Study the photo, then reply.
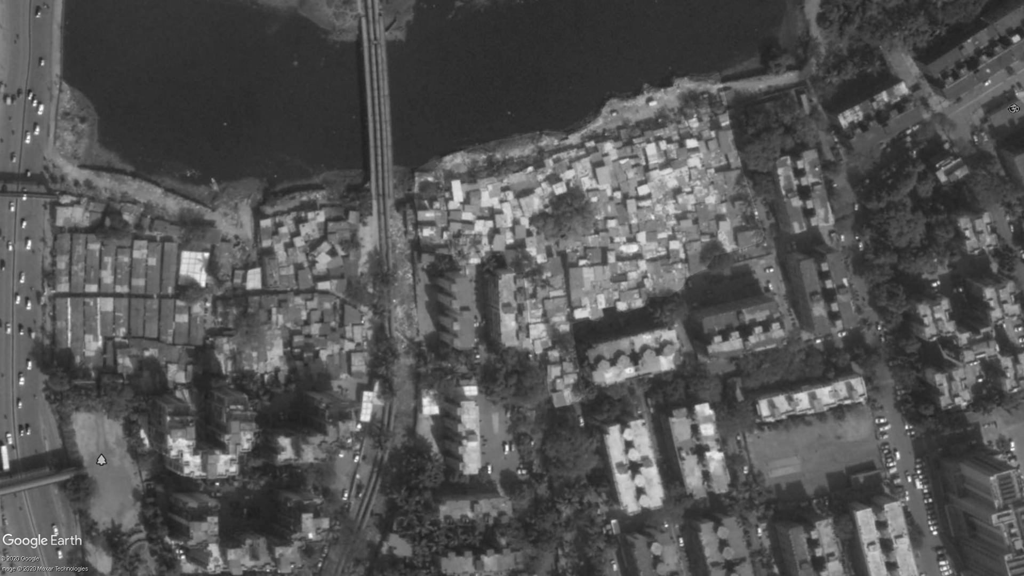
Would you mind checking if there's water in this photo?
Yes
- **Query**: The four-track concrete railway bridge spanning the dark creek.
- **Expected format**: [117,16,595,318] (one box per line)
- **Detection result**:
[361,0,394,277]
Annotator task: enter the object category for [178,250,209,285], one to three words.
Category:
shed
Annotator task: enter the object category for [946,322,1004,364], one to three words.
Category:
building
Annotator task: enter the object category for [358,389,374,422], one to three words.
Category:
shed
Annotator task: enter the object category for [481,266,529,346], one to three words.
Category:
building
